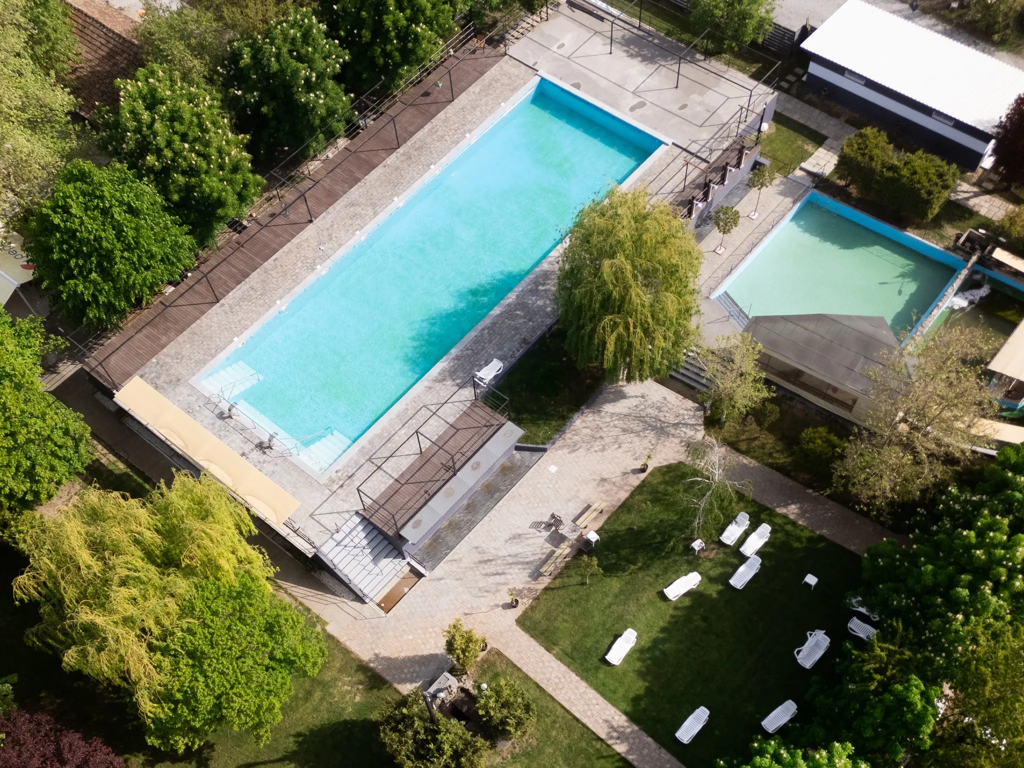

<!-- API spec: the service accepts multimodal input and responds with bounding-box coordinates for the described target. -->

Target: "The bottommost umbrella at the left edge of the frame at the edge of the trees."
[0,271,37,315]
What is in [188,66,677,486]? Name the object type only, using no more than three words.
swimming pool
